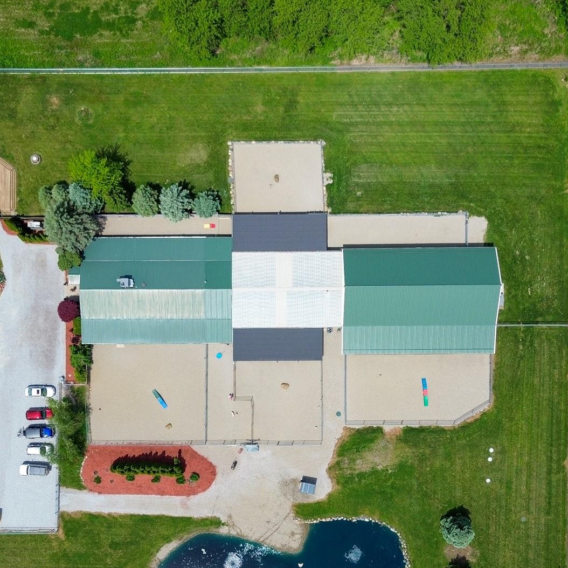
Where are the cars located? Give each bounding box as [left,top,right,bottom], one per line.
[26,384,58,399]
[24,426,55,440]
[26,407,56,422]
[26,444,55,458]
[20,462,53,477]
